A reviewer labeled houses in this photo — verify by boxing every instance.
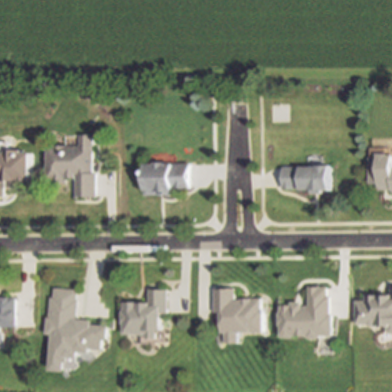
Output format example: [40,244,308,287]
[136,162,192,197]
[366,153,392,194]
[44,287,108,372]
[45,134,97,197]
[0,294,17,328]
[120,289,168,340]
[276,165,332,196]
[276,286,331,341]
[354,294,392,334]
[0,147,28,198]
[212,287,263,344]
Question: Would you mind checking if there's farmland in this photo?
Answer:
Yes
